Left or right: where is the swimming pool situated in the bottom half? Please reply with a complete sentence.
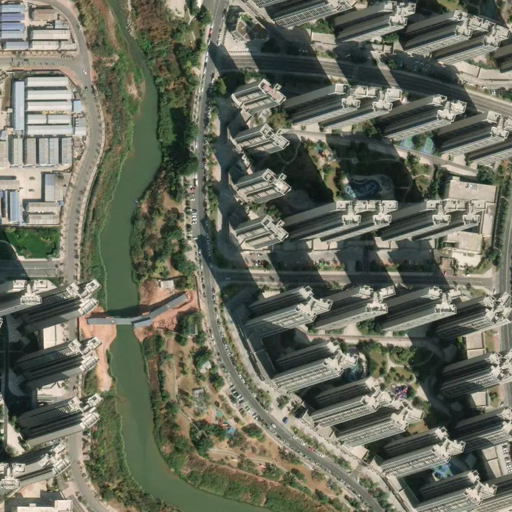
You can find the swimming pool situated in the bottom half on the right side of the picture.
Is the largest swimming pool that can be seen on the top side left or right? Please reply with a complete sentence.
The largest swimming pool that can be seen on the top side sits on the right side.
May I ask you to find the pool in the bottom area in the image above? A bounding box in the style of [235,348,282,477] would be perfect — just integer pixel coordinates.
[342,348,366,382]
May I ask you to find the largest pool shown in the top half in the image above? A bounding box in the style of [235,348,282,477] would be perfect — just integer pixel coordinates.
[343,174,394,202]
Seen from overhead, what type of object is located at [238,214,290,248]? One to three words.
building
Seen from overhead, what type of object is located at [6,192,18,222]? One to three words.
shed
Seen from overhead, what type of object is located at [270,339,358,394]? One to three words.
building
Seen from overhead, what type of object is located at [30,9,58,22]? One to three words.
house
